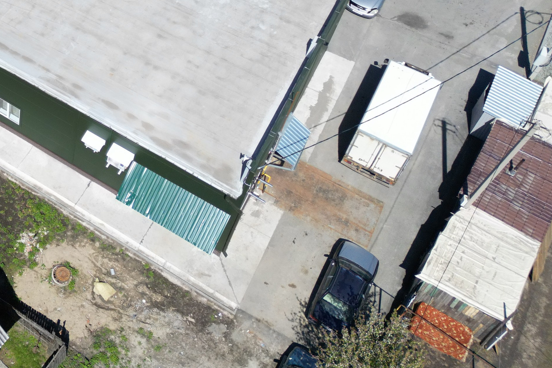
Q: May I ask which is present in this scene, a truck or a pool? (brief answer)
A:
truck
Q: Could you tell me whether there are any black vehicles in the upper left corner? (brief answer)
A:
No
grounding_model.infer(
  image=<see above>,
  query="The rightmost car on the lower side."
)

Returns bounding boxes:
[299,241,378,347]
